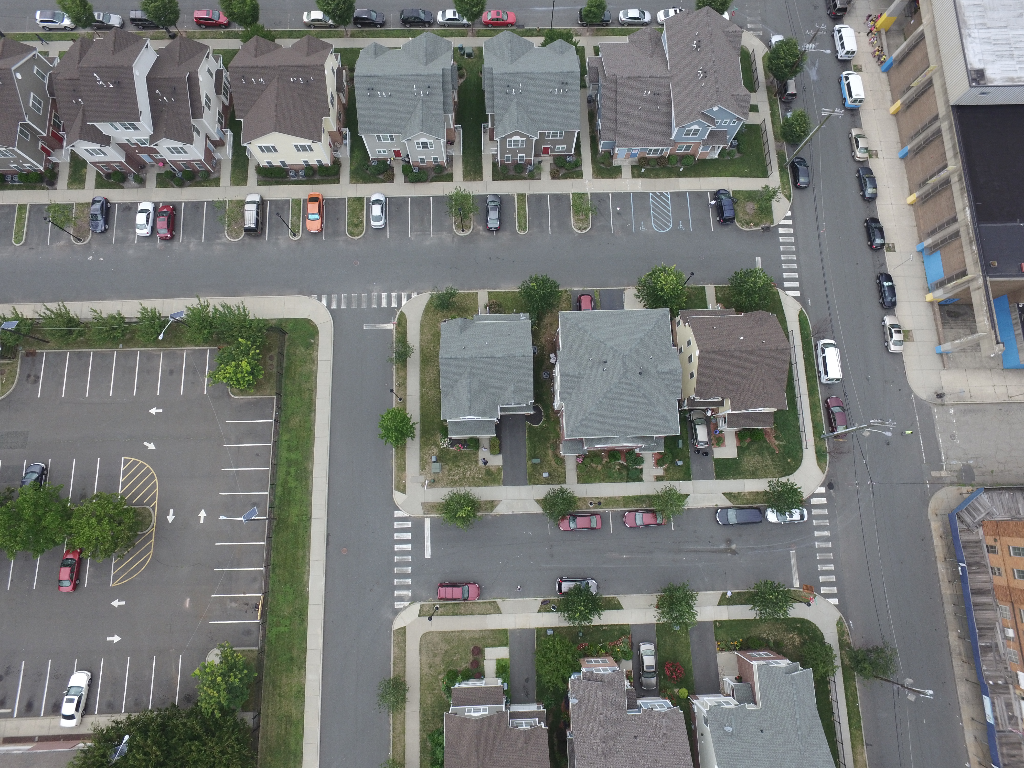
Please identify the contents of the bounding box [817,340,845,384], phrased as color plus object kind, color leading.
white van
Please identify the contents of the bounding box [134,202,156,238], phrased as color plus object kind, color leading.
white car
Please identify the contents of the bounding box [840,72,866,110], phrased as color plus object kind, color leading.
white vehicle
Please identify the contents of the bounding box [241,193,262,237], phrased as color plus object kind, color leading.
white car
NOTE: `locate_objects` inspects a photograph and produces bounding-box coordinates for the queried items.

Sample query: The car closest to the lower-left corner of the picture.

[60,670,93,728]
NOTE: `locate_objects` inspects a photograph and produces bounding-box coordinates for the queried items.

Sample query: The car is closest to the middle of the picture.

[577,291,593,311]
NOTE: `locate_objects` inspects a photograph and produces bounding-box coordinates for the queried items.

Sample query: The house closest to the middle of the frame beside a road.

[439,311,534,438]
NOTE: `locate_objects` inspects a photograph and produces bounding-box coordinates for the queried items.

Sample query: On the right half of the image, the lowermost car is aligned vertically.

[638,642,660,690]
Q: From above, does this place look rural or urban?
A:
urban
